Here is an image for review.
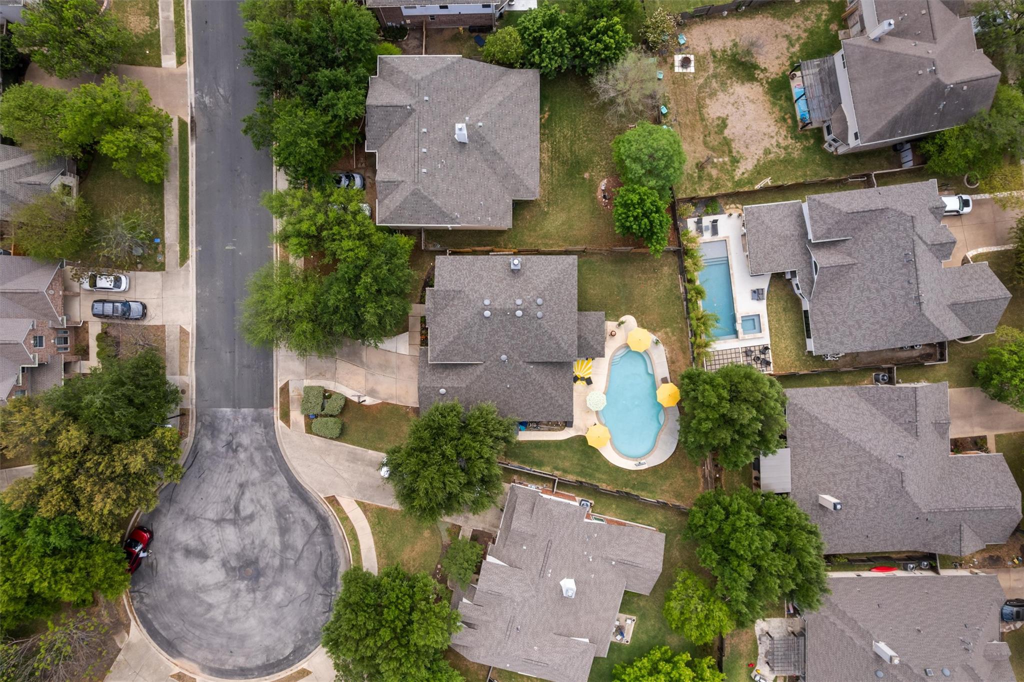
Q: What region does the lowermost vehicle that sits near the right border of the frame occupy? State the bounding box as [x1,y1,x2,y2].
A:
[997,597,1024,623]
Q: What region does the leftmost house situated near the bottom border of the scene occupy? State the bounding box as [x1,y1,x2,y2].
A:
[449,482,670,682]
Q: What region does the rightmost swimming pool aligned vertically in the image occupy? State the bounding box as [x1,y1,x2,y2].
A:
[795,87,810,124]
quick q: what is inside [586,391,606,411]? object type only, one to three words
umbrella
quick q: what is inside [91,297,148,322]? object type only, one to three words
car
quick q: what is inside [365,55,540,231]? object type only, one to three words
house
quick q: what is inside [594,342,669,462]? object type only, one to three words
swimming pool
